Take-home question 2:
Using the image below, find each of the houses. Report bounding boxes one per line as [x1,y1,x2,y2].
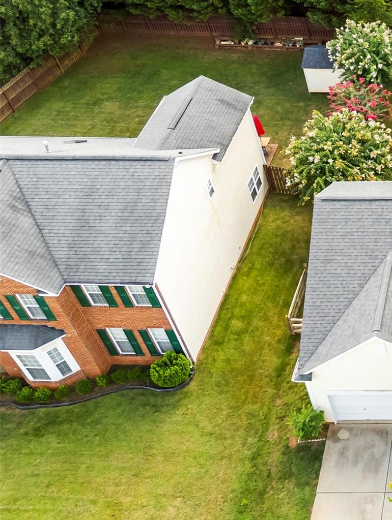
[0,76,271,387]
[290,181,392,424]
